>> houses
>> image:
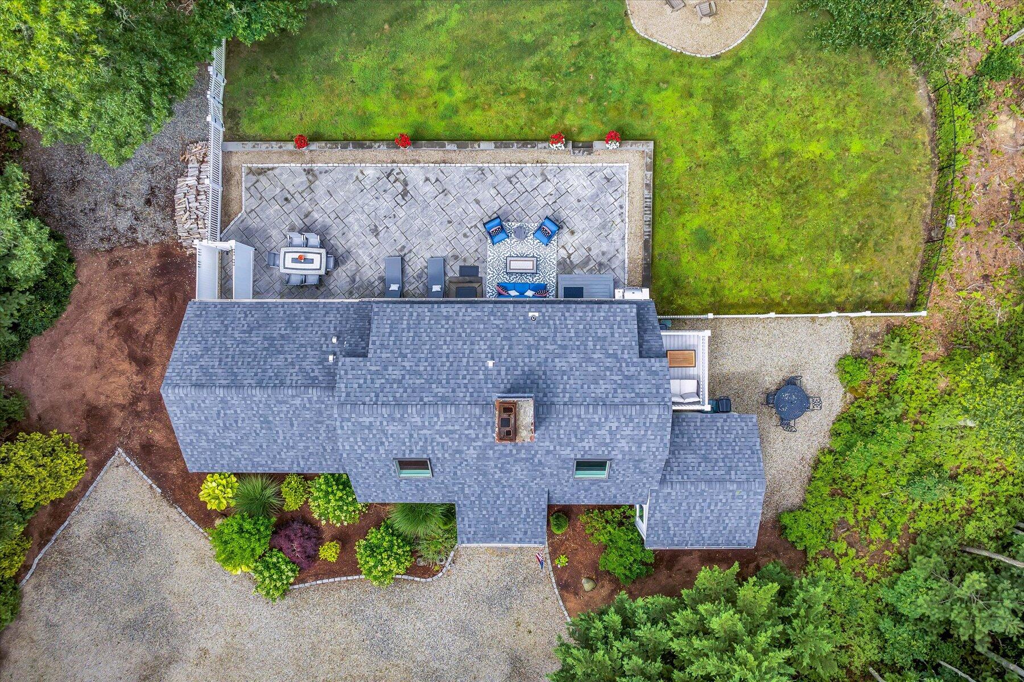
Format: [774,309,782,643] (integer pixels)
[161,297,766,552]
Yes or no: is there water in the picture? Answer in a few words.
No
